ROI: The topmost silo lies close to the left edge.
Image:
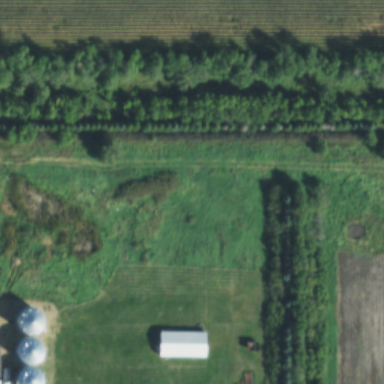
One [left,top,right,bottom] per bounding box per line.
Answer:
[14,308,43,336]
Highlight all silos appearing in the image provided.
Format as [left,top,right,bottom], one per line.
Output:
[14,308,43,336]
[14,367,43,384]
[14,337,44,366]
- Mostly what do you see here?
grass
